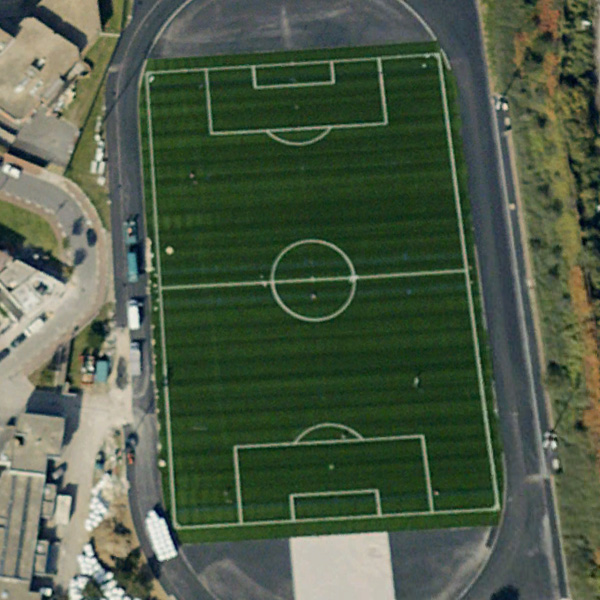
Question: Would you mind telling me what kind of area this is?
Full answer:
What you see here is a sports ground.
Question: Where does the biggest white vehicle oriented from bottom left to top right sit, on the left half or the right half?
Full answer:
You can find the biggest white vehicle oriented from bottom left to top right on the left side of the picture.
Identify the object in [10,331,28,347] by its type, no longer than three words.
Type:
car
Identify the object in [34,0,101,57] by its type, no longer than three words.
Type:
building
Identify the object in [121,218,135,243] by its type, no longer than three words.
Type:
vehicle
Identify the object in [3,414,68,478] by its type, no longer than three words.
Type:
building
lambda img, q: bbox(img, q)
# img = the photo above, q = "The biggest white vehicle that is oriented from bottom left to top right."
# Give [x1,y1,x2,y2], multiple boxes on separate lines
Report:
[24,313,47,335]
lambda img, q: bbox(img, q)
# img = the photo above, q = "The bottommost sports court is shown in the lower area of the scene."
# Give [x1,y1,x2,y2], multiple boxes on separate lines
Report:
[290,532,396,600]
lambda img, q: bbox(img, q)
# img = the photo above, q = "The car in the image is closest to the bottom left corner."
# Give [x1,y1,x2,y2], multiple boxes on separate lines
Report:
[50,464,64,479]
